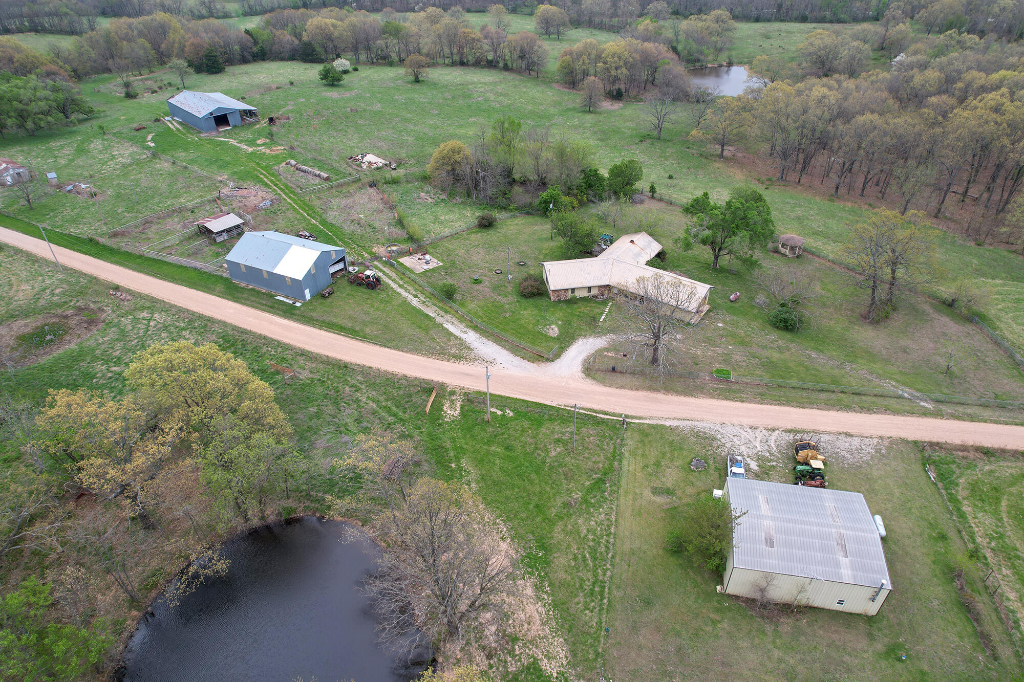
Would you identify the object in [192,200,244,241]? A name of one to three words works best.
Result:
shed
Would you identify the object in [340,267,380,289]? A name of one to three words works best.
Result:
work vehicle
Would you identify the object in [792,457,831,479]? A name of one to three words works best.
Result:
work vehicle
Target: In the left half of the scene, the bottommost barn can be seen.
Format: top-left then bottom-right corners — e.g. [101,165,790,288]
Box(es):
[225,231,346,301]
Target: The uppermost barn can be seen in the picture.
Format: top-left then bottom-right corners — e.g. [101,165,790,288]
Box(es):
[165,92,259,131]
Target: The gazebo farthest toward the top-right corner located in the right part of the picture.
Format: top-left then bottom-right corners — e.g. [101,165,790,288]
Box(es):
[778,228,811,255]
